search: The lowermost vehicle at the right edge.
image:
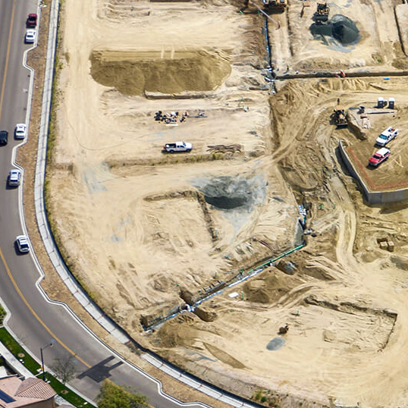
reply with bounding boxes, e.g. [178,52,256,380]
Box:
[367,147,392,165]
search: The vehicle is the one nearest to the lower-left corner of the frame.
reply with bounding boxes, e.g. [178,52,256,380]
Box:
[15,237,30,253]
